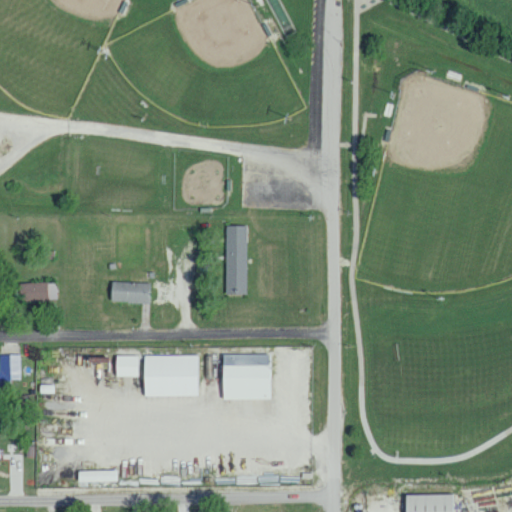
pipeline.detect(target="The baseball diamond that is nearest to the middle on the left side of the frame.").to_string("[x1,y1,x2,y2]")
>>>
[175,152,228,210]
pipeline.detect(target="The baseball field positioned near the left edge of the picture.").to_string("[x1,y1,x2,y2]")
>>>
[0,0,122,117]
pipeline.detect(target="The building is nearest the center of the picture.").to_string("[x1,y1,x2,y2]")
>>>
[224,226,250,296]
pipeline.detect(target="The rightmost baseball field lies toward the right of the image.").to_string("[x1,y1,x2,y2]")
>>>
[358,72,512,293]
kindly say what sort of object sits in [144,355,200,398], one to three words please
building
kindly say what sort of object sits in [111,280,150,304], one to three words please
house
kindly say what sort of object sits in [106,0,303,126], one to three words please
baseball field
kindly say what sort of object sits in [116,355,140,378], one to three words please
building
